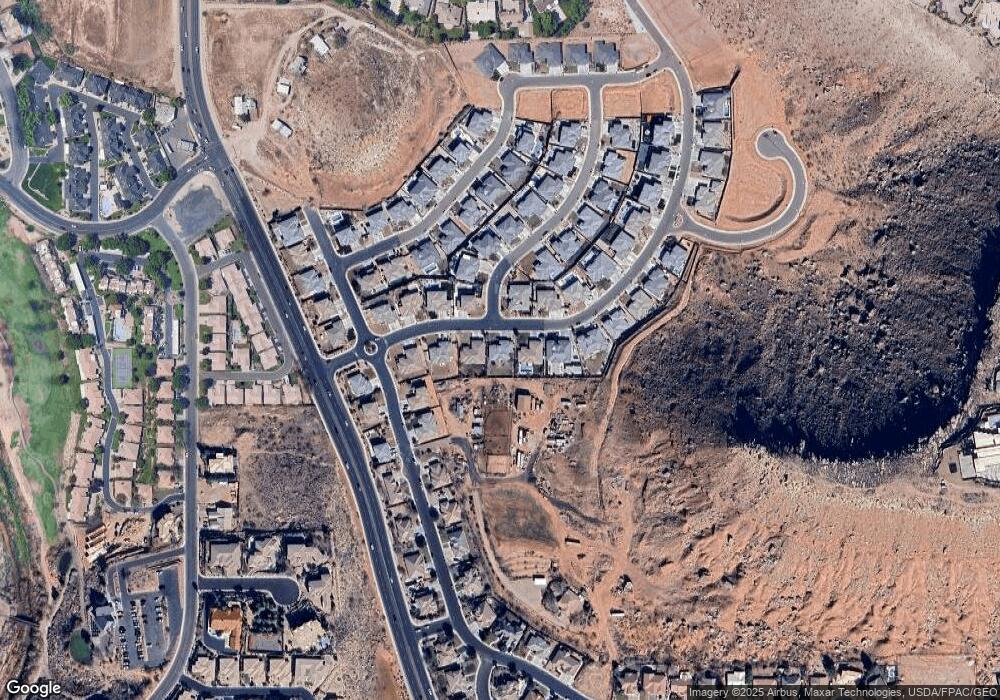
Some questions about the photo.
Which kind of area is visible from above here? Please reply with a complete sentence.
The area seen from above is a residential area.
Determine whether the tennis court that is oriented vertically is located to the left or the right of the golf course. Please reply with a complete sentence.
The tennis court that is oriented vertically is to the right of the golf course.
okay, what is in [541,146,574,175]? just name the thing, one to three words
house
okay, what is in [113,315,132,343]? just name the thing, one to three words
swimming pool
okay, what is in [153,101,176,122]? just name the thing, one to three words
building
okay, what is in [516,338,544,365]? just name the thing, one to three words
house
